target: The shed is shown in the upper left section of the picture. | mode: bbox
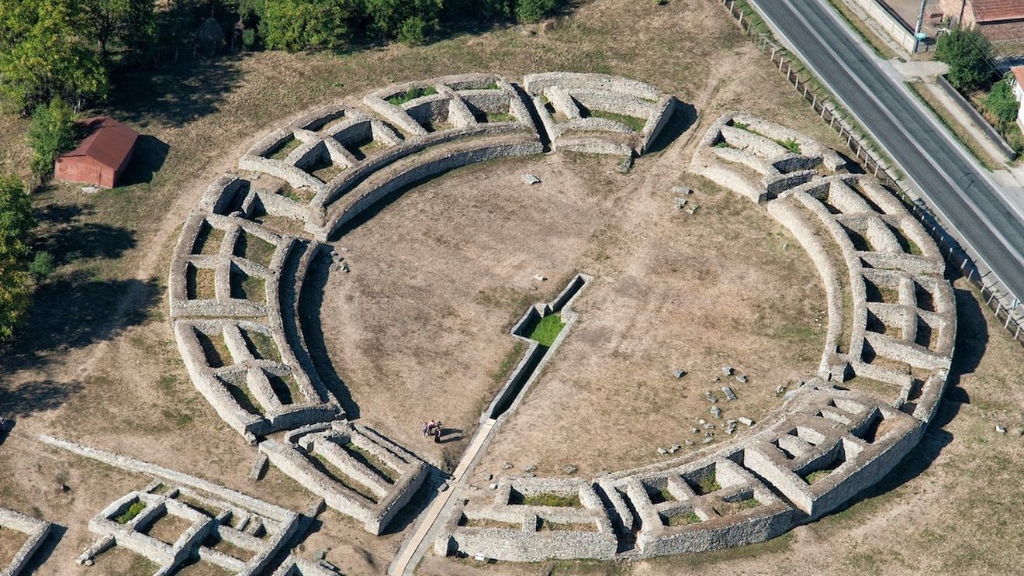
[55,119,134,187]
